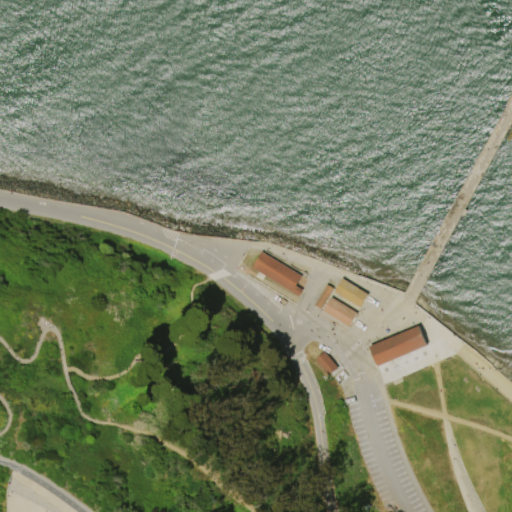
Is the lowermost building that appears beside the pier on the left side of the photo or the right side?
right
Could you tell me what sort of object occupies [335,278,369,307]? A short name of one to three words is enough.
shed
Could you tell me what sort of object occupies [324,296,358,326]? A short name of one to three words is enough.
shed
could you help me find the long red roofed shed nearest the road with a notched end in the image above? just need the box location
[253,252,304,295]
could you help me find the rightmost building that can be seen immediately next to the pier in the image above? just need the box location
[370,324,429,366]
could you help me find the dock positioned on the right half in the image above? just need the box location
[406,90,512,300]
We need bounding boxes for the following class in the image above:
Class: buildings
[335,278,369,307]
[316,284,335,308]
[316,352,338,374]
[253,252,304,295]
[370,324,429,366]
[324,296,358,326]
